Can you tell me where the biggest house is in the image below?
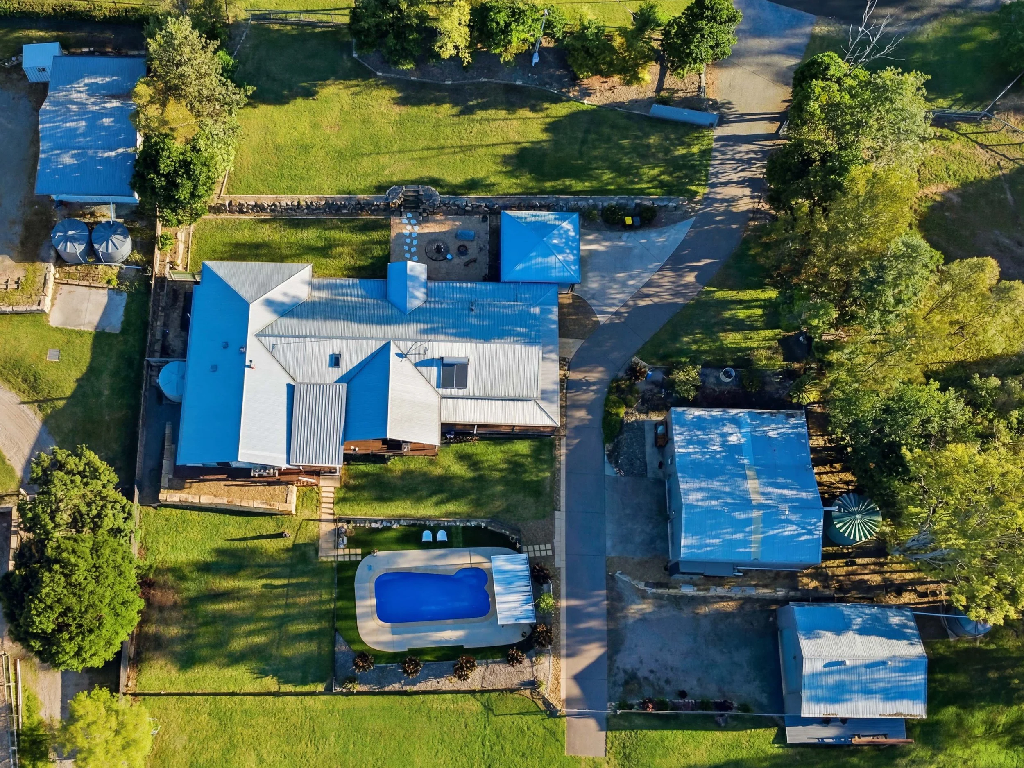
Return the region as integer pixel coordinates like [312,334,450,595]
[173,260,561,483]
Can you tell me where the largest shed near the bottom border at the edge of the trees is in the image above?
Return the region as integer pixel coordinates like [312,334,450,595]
[778,602,975,744]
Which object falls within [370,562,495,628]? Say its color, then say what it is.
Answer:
blue swimming pool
